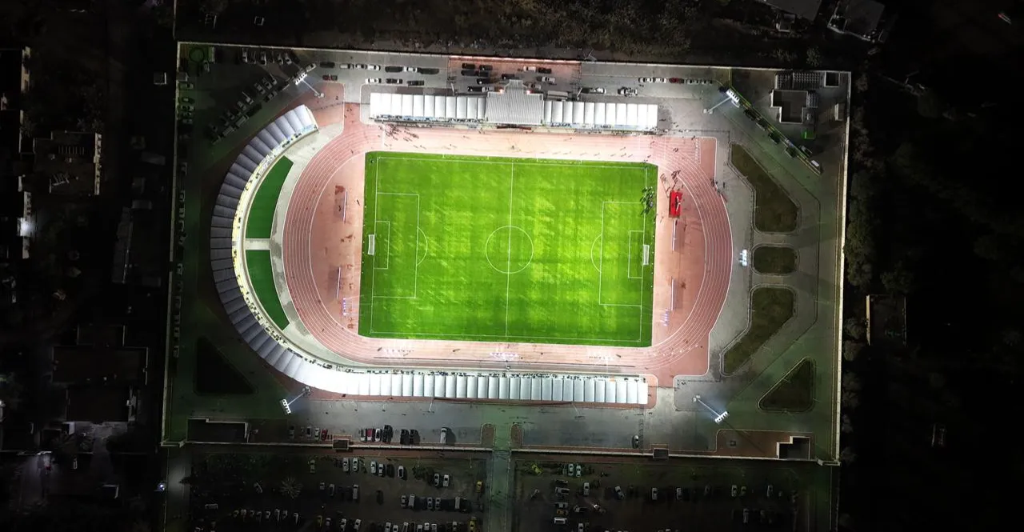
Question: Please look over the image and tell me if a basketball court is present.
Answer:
No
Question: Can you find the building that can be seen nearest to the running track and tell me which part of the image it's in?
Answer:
top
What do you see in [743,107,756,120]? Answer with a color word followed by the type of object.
black vehicle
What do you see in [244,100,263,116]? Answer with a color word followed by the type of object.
black vehicle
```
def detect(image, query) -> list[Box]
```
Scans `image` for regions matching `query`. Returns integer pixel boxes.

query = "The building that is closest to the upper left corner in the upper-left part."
[0,49,40,110]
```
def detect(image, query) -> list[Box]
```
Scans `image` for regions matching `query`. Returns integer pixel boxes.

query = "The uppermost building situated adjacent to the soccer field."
[485,80,543,132]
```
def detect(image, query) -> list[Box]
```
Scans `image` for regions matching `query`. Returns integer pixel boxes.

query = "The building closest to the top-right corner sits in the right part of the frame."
[824,0,883,40]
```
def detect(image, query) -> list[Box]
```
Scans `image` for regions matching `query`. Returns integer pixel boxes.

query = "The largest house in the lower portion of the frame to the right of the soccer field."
[863,294,905,346]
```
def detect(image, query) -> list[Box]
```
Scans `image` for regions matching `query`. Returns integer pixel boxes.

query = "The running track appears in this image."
[282,120,734,390]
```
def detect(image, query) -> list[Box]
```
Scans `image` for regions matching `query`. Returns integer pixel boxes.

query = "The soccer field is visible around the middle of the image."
[358,151,658,347]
